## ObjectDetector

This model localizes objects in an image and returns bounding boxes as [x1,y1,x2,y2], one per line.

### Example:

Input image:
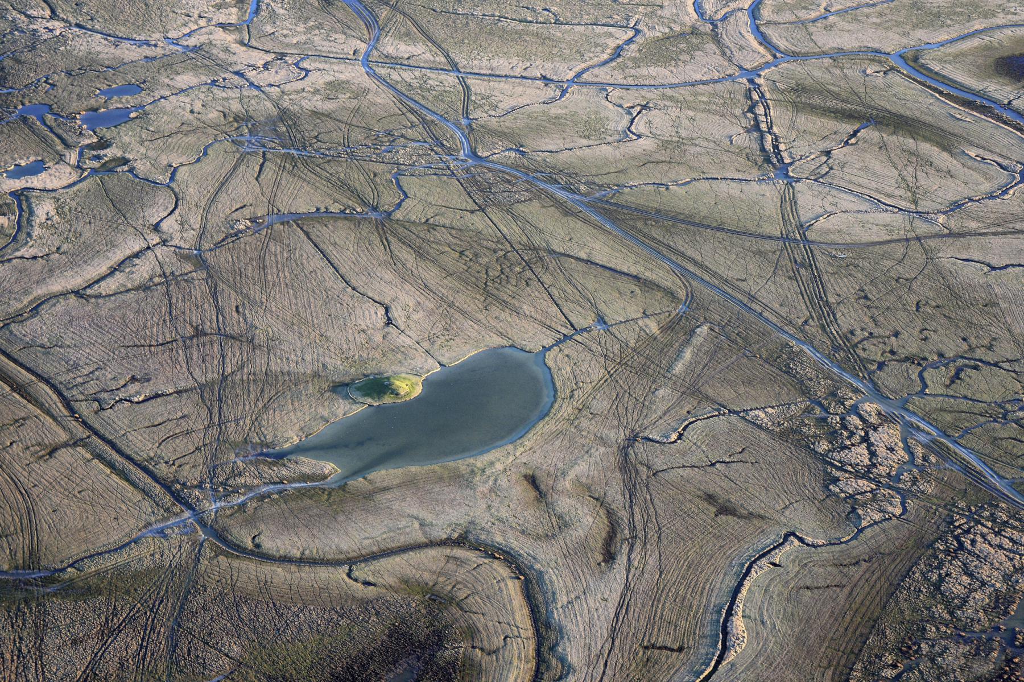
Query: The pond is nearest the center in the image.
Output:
[269,347,555,488]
